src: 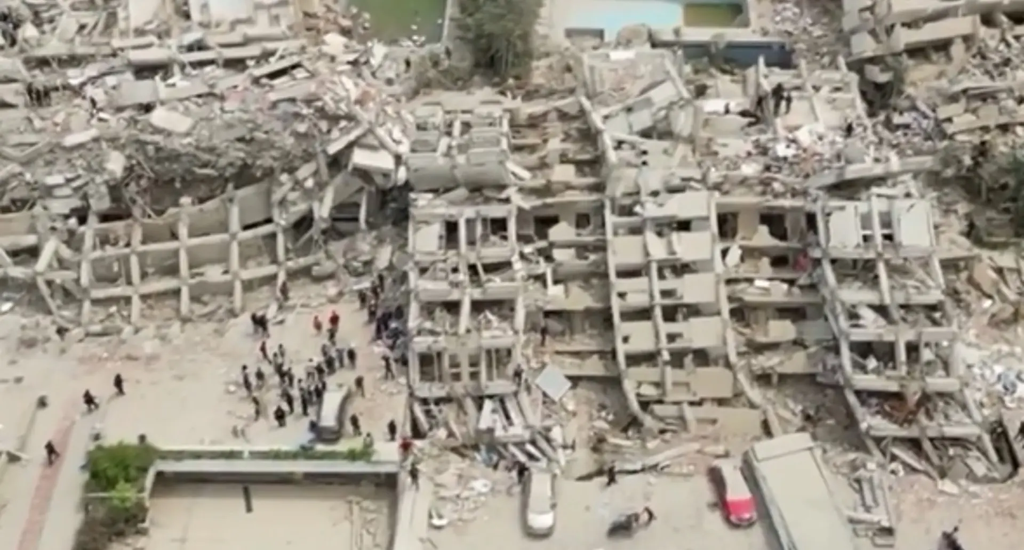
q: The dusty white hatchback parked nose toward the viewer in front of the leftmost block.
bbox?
[522,468,558,537]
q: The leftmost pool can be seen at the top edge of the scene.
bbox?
[553,0,680,43]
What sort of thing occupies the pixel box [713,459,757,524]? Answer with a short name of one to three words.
car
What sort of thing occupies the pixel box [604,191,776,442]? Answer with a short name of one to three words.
building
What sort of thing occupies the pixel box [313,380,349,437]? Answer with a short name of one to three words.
vehicle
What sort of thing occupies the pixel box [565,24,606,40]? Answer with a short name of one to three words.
shed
